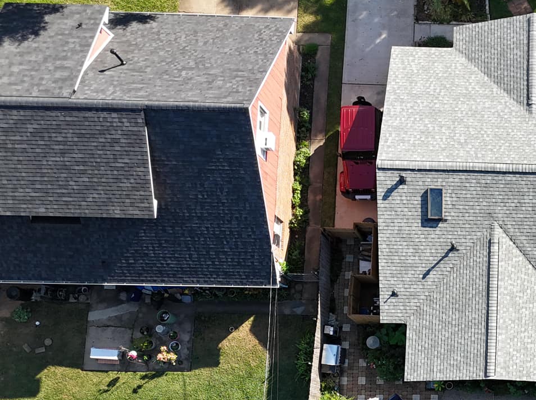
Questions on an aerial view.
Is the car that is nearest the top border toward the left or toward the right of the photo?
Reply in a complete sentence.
You can find the car that is nearest the top border on the right side of the picture.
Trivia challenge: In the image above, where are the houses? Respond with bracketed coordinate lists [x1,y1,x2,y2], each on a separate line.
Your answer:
[0,7,305,289]
[375,16,536,381]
